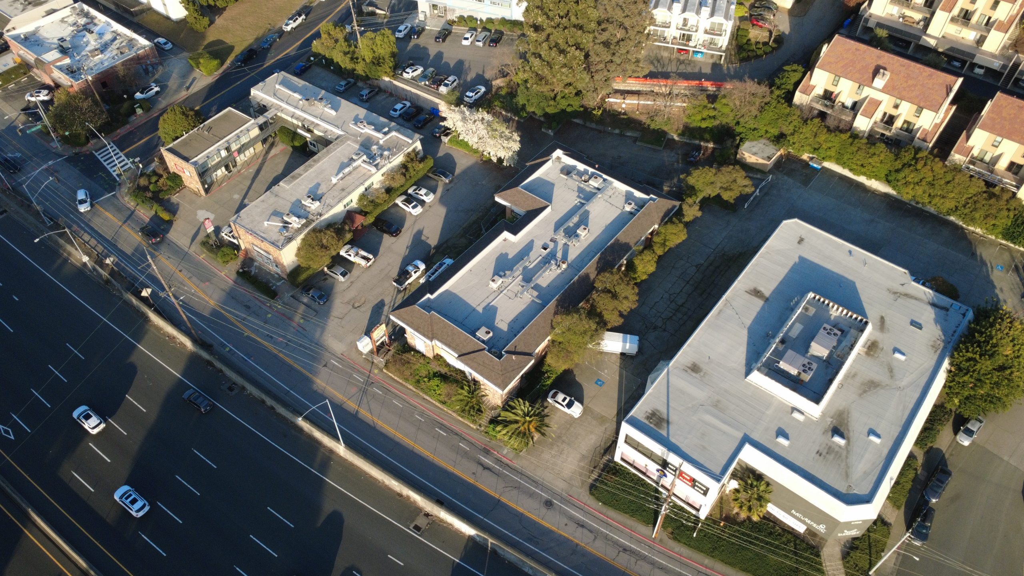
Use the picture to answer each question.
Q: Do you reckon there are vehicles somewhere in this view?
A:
Yes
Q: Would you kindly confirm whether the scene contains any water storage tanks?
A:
No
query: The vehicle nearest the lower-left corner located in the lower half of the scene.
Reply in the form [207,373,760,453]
[117,483,148,521]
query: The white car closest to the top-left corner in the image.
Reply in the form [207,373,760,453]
[25,86,54,104]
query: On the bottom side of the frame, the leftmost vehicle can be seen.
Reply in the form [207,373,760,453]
[75,403,104,437]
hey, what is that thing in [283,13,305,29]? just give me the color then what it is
white vehicle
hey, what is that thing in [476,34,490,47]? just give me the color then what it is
gray vehicle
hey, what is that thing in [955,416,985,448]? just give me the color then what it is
gray car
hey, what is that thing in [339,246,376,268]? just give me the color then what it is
white truck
